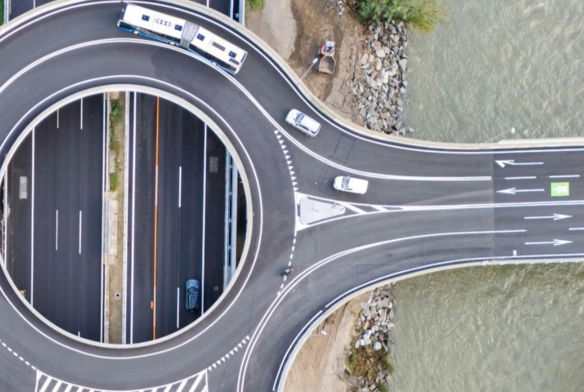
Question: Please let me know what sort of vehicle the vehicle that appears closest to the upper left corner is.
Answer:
bus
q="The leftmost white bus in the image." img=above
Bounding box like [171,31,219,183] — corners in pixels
[120,3,246,75]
